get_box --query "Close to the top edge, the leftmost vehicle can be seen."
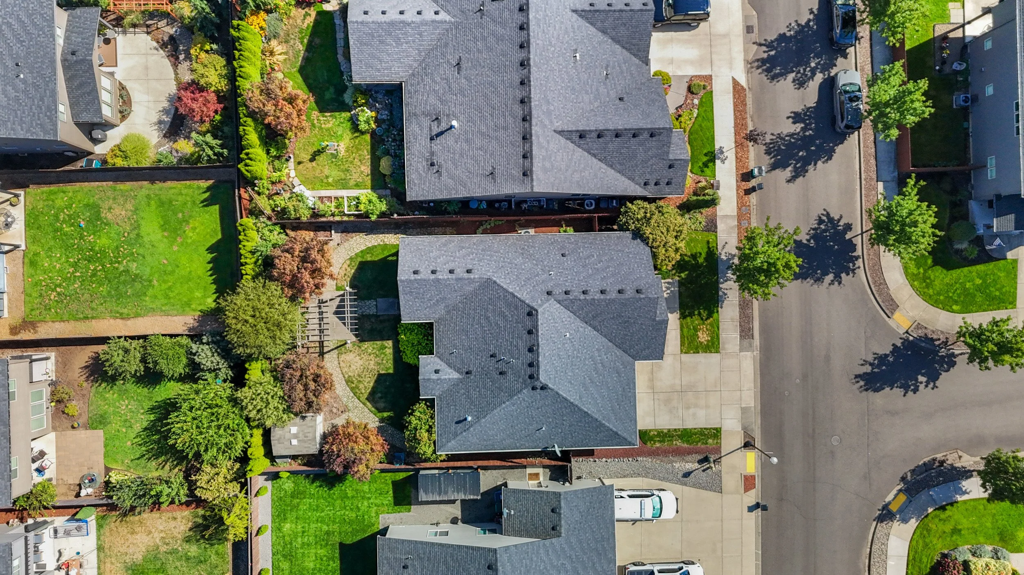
[653,0,710,25]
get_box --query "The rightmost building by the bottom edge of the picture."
[376,477,618,575]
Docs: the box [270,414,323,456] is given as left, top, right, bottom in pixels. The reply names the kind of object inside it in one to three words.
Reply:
shed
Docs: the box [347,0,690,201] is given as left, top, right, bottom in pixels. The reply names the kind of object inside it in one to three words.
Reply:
house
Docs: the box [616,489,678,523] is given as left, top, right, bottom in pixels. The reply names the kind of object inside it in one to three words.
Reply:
car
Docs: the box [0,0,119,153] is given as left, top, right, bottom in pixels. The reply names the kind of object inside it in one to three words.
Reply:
house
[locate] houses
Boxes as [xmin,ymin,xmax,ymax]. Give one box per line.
[968,0,1024,235]
[347,0,690,201]
[0,353,52,508]
[376,477,618,575]
[0,0,119,153]
[398,231,668,455]
[0,518,57,575]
